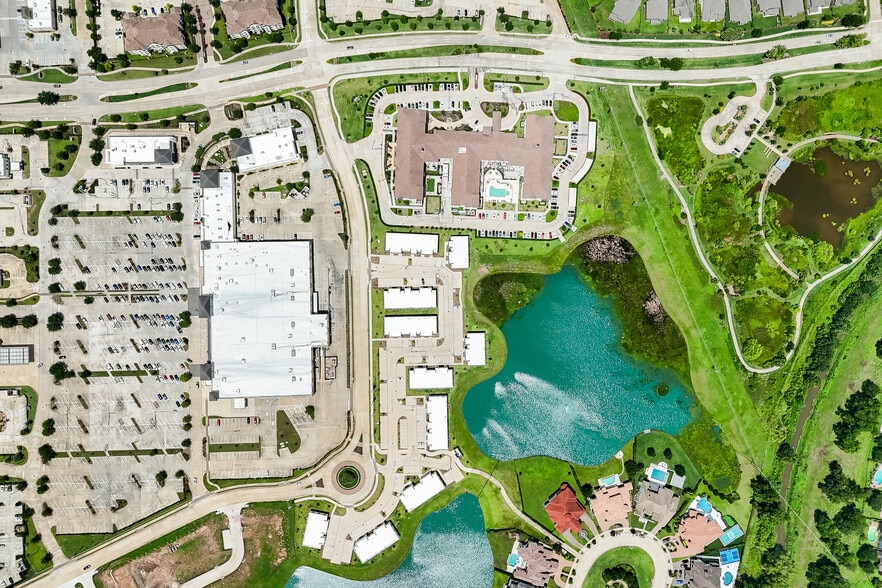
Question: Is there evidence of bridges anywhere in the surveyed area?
No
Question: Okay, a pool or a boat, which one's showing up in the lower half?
pool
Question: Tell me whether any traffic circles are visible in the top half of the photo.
No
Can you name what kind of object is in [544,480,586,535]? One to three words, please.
house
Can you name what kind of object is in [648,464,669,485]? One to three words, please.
swimming pool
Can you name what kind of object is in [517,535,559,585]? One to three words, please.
house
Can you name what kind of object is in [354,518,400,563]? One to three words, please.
building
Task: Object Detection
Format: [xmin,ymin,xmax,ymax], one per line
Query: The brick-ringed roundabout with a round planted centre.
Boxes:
[331,461,365,495]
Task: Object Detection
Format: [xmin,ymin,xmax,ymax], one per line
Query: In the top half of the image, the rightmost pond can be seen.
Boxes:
[766,146,882,248]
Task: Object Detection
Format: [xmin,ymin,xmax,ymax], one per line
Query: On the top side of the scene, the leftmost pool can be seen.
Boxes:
[483,169,522,201]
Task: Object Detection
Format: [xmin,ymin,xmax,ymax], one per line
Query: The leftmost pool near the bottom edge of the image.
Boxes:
[507,548,521,568]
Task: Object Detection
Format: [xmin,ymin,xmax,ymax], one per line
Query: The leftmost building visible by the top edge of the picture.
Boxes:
[123,3,189,56]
